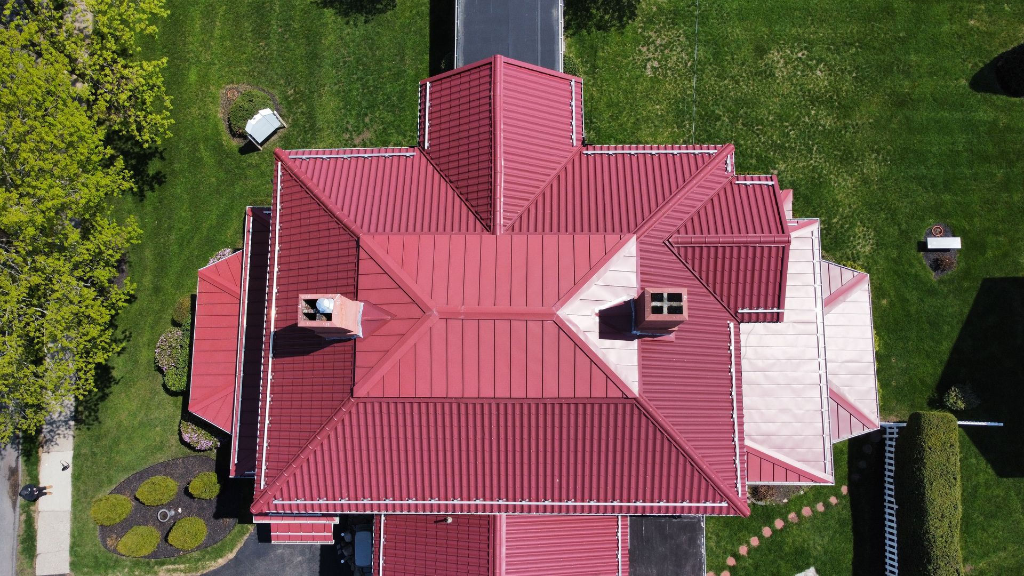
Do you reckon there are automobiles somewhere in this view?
No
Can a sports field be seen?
No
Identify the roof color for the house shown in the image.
red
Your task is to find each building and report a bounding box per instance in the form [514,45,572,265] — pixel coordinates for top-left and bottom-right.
[186,0,880,576]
